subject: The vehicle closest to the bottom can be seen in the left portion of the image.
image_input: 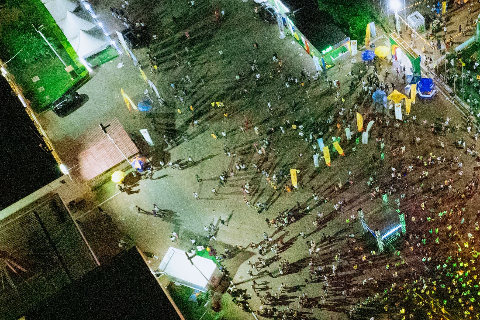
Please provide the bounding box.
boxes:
[50,90,82,111]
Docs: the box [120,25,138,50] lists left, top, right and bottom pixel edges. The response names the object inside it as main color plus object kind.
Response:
black car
